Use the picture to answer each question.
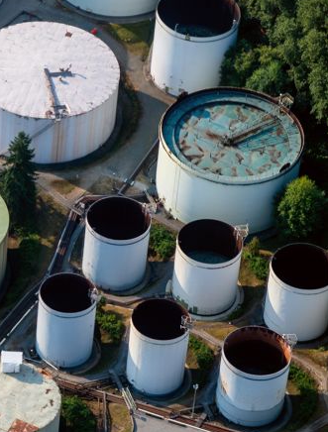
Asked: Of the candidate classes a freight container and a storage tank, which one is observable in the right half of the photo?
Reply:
storage tank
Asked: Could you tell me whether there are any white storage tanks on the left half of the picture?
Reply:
Yes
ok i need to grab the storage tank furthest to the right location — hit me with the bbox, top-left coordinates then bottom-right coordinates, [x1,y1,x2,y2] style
[259,241,328,343]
